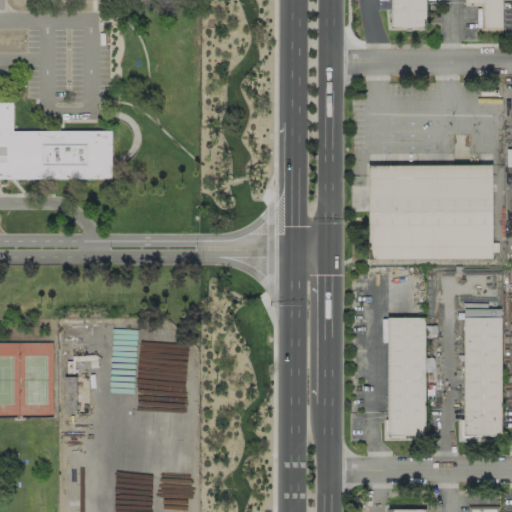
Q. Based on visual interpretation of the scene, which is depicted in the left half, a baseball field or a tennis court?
tennis court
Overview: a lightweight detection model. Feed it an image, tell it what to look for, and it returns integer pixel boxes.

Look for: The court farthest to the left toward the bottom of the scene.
[0,344,20,416]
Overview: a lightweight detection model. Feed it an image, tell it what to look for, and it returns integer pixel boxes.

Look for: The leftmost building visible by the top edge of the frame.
[391,0,428,28]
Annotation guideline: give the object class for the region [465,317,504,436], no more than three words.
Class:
building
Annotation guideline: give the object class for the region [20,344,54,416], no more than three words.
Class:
tennis court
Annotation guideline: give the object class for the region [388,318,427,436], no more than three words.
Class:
building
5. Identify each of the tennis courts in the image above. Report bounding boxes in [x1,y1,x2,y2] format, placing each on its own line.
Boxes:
[0,344,20,416]
[20,344,54,416]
